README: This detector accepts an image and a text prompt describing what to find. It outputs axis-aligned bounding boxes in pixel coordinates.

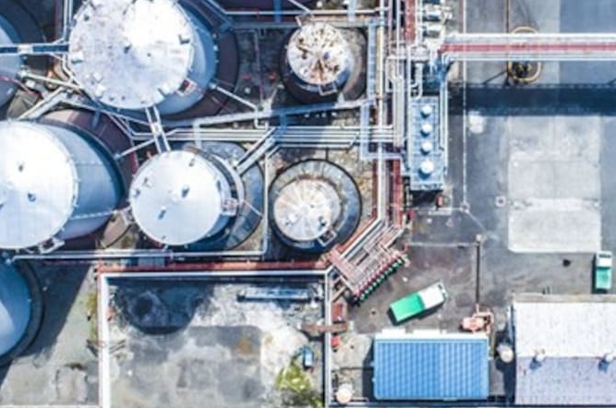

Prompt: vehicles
[592,250,613,292]
[384,276,450,326]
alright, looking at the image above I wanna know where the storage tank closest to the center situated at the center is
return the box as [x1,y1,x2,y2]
[267,161,364,255]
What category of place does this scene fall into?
industrial area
